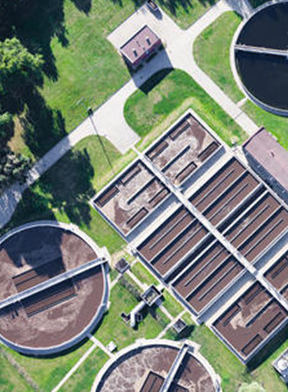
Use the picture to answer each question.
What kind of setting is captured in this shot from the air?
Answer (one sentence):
This image shows an industrial area.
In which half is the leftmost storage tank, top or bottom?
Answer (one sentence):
The leftmost storage tank is in the bottom half of the image.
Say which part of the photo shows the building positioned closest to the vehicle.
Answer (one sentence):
You can find the building positioned closest to the vehicle in the top area of the picture.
